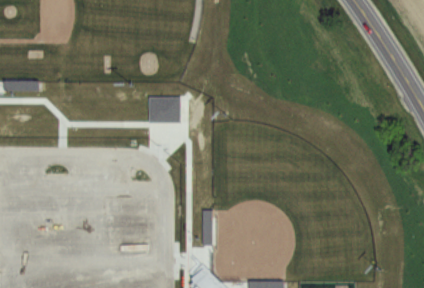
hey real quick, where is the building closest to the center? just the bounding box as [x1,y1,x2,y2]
[149,96,181,122]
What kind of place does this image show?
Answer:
sports ground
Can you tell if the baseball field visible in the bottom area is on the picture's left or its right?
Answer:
right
